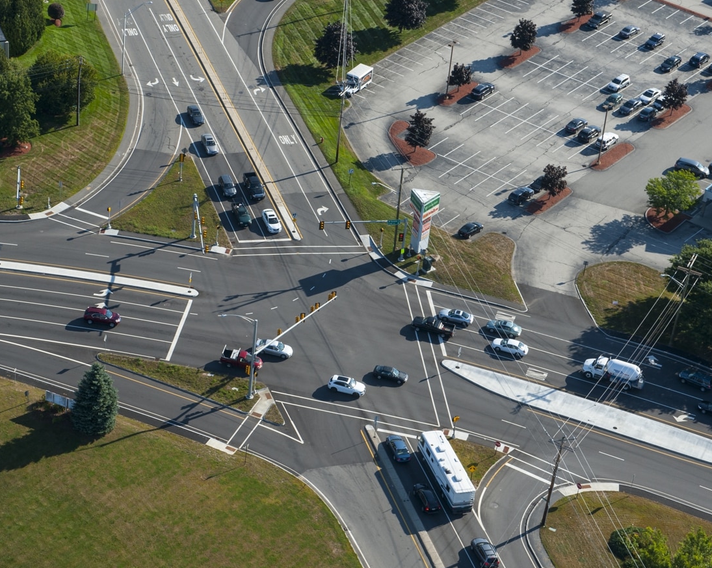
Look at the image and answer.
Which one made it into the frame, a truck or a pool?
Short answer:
truck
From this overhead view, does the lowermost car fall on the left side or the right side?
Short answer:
right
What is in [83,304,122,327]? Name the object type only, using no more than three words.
car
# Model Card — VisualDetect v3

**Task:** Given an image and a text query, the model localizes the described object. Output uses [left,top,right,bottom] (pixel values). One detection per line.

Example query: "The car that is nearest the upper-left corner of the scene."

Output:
[187,105,205,125]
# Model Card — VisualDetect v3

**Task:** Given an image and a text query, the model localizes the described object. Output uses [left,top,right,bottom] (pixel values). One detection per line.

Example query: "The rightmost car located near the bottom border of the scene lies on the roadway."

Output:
[472,539,499,568]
